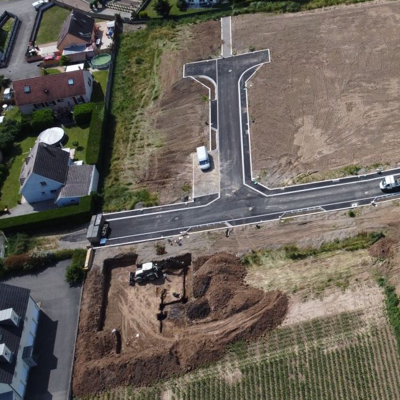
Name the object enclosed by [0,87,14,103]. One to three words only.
car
